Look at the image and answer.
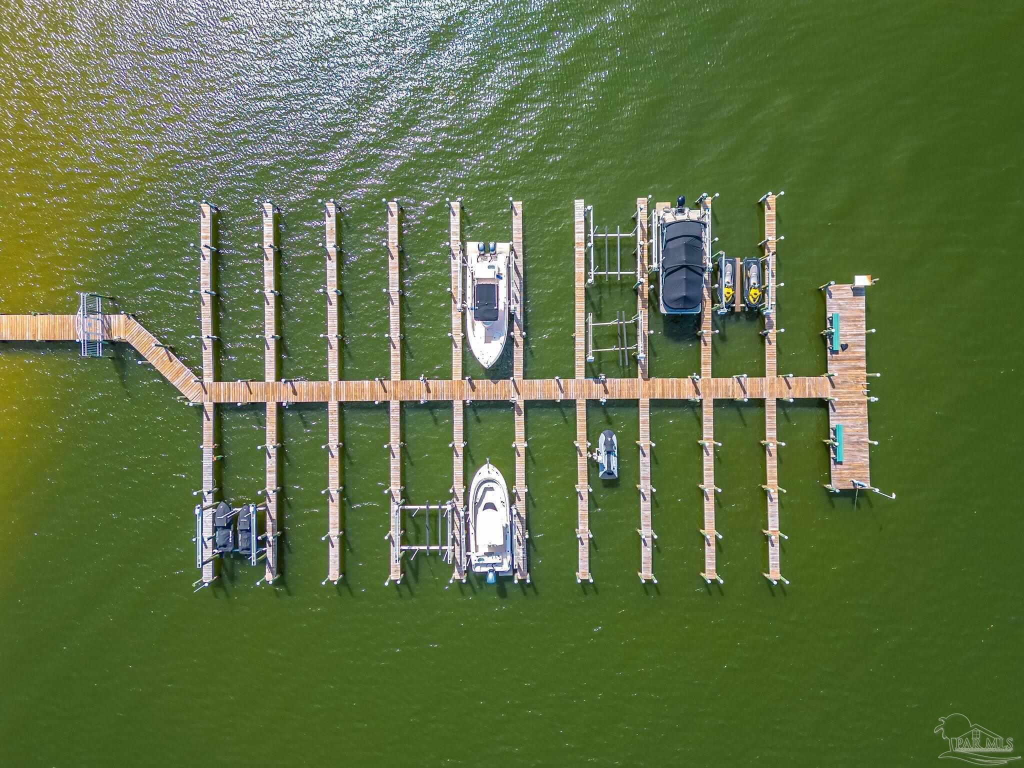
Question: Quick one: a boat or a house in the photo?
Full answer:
There is a boat in the scene.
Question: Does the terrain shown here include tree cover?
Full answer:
No, there's no tree cover in this view.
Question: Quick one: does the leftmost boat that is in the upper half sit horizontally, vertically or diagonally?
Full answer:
What the image shows is the leftmost boat that is in the upper half lying vertically.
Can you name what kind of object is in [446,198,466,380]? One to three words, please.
pier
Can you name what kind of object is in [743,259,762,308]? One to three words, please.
boat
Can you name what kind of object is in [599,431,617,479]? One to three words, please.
boat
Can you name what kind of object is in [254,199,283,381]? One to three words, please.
pier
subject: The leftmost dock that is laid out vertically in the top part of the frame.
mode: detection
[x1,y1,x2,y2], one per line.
[190,199,221,381]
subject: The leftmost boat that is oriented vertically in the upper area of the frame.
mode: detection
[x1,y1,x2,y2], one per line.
[467,242,509,369]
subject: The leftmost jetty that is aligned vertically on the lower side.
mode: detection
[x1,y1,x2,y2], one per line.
[193,403,223,586]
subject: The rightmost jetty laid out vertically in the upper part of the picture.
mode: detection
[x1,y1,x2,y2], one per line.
[758,192,784,377]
